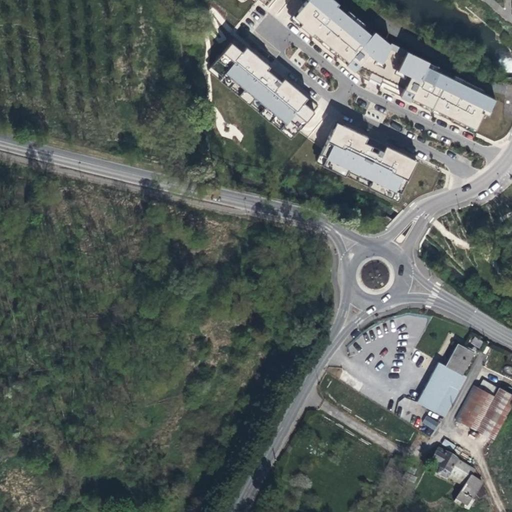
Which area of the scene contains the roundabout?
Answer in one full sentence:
Look in the right portion of the view to spot the roundabout.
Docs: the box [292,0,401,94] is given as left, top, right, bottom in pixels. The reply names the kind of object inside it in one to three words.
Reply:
building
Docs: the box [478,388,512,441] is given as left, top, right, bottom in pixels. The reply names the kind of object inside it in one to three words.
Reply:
barn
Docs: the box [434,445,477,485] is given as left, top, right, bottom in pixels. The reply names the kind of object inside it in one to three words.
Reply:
house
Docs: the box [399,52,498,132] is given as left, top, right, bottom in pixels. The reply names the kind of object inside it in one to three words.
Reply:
building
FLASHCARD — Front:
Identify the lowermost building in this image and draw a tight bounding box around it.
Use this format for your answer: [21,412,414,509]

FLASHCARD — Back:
[454,474,484,510]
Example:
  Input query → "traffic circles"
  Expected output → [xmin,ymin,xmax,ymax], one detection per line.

[344,237,414,317]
